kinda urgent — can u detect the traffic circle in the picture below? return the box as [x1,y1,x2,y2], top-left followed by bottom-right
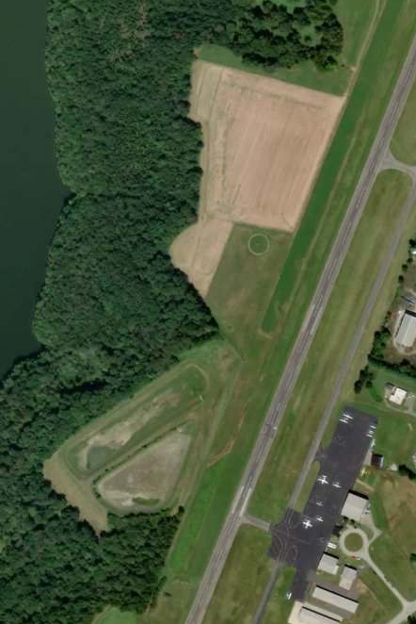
[341,529,369,557]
